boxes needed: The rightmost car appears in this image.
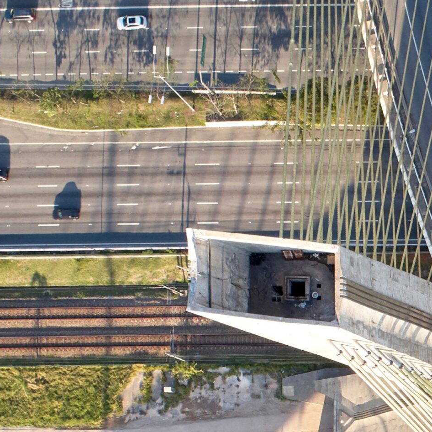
[117,15,147,30]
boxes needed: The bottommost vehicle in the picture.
[54,206,81,221]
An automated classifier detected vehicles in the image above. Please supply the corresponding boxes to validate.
[117,15,147,30]
[5,6,37,23]
[54,206,81,221]
[0,168,8,183]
